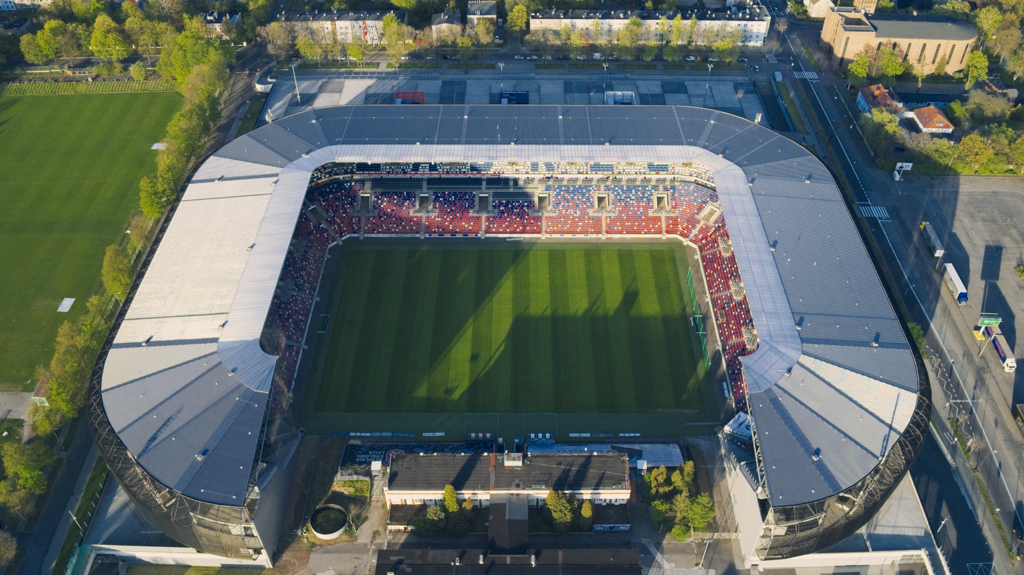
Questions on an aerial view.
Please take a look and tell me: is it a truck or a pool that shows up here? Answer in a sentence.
It is a truck that can be seen here.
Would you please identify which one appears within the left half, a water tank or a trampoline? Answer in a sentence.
There is a water tank within the left half.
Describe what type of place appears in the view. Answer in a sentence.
The area seen from above is a sports ground.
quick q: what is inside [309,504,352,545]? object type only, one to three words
water tank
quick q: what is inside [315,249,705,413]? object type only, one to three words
sports field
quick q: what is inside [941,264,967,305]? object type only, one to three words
truck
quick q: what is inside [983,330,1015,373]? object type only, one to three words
truck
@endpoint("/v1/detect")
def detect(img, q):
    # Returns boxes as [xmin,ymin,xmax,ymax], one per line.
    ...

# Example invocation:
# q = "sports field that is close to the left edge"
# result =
[0,91,184,393]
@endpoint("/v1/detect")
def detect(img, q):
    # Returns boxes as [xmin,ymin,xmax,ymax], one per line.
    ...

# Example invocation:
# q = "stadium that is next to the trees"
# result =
[85,103,935,566]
